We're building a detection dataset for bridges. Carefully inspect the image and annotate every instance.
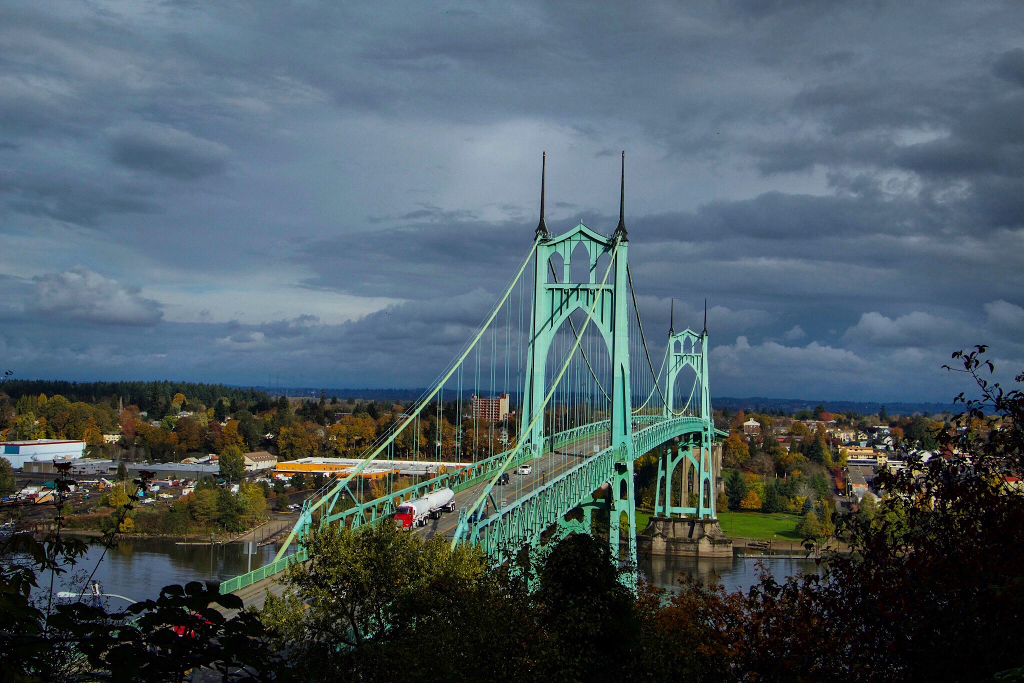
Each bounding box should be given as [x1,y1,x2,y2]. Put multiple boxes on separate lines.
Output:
[4,150,734,683]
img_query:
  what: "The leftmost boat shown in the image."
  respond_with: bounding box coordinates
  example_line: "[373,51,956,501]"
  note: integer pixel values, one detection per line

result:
[0,513,35,540]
